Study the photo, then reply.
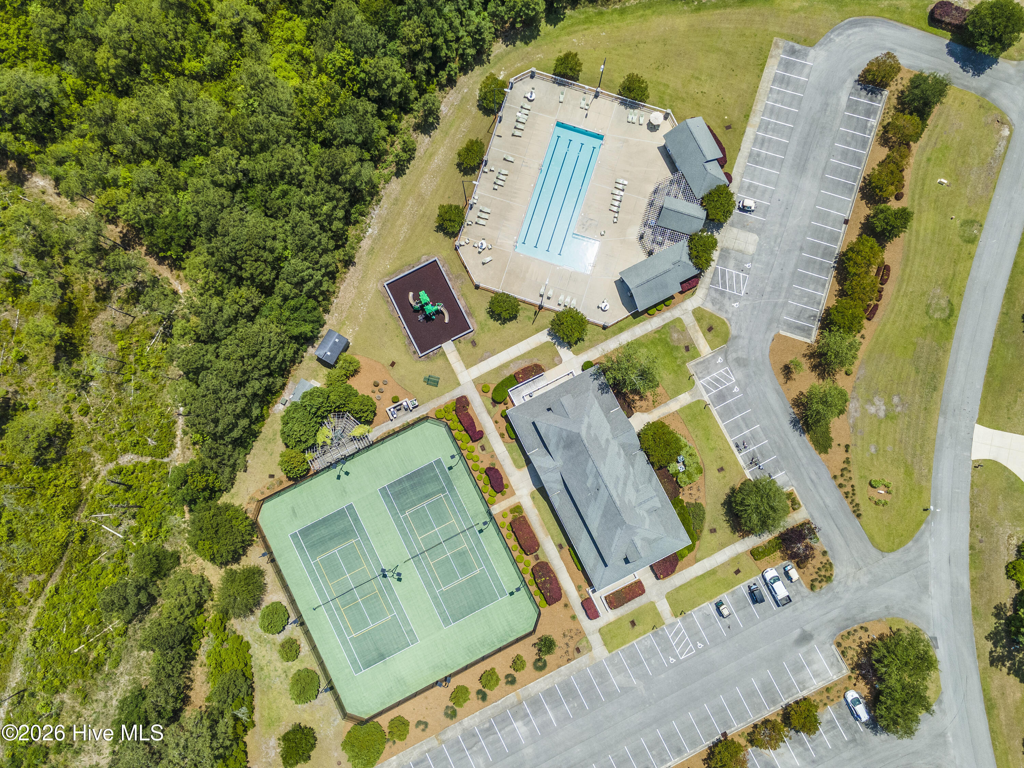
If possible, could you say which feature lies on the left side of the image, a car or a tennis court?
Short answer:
tennis court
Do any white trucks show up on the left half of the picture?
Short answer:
No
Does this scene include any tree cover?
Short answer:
Yes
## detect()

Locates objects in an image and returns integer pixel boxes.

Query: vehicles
[783,565,800,582]
[762,567,793,608]
[748,583,766,603]
[738,201,756,213]
[844,688,869,724]
[715,600,732,618]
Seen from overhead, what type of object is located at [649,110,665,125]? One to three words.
umbrella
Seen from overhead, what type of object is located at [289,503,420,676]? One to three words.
tennis court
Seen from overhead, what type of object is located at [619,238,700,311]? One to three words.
building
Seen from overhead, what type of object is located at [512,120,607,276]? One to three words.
swimming pool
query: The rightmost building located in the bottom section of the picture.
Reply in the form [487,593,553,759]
[505,365,692,592]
